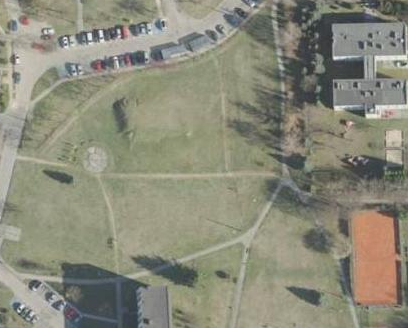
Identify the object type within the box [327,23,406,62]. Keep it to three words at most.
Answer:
building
